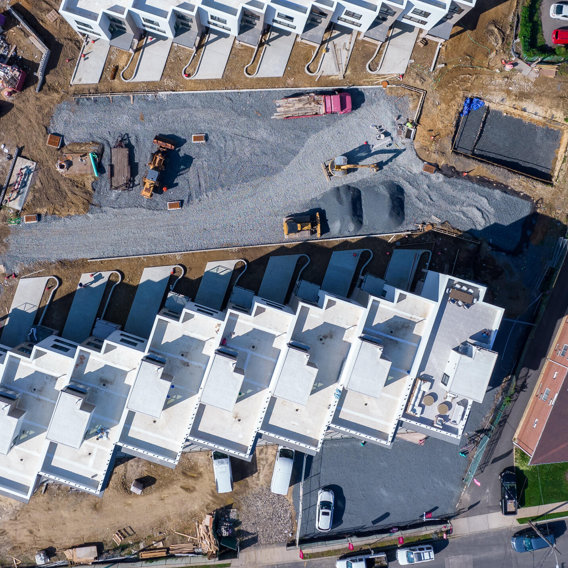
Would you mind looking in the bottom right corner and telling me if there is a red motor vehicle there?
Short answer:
No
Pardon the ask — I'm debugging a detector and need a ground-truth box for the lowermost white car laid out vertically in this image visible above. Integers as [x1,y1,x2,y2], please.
[315,489,337,532]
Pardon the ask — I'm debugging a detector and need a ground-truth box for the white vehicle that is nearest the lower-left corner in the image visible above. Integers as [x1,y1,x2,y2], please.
[211,450,233,498]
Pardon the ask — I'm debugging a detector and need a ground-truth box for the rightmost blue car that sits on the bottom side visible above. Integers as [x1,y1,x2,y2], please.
[510,529,556,556]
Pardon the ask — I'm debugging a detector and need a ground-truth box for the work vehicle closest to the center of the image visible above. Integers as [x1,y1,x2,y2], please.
[283,211,319,238]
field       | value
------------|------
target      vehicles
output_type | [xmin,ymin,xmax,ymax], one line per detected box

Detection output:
[396,545,436,568]
[290,89,352,118]
[548,5,568,21]
[283,211,319,238]
[497,469,518,518]
[137,134,175,199]
[336,551,390,568]
[317,152,379,184]
[315,489,337,532]
[211,450,233,498]
[510,529,556,556]
[271,445,297,499]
